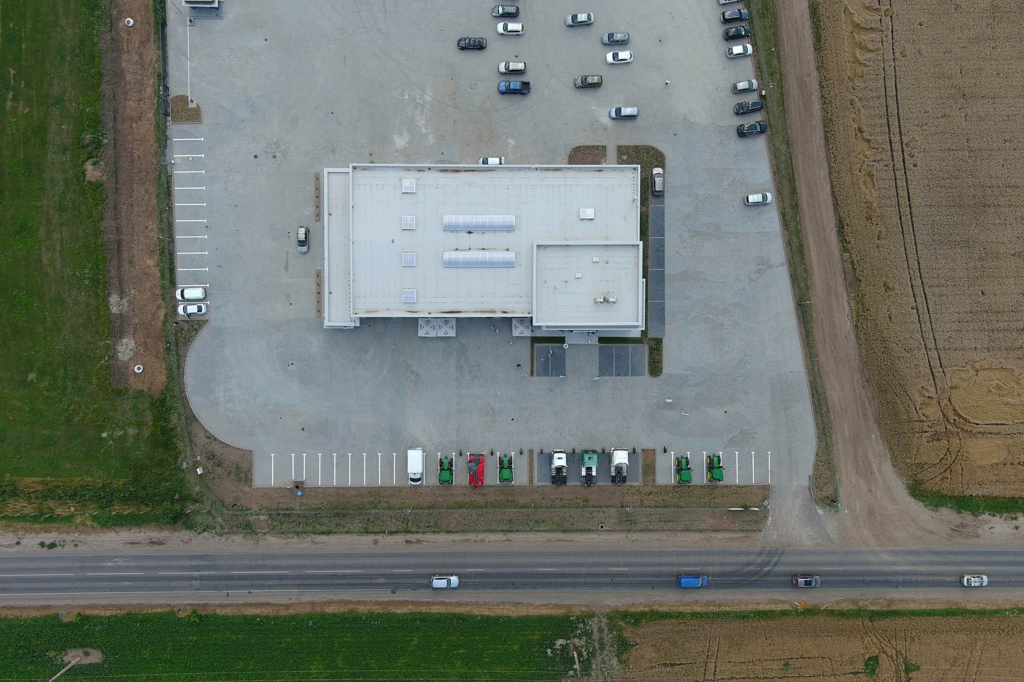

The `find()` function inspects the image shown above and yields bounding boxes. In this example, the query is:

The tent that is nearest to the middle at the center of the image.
[512,318,530,336]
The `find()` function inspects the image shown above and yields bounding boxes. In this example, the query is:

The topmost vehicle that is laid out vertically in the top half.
[652,168,665,196]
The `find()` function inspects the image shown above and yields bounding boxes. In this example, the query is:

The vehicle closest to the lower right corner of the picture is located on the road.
[960,574,988,588]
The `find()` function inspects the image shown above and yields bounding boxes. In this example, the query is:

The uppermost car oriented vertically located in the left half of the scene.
[295,225,309,254]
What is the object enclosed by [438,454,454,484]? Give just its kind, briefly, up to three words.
work vehicle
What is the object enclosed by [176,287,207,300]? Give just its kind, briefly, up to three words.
vehicle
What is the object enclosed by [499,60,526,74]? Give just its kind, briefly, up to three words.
car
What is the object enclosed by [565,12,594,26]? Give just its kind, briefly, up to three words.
car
